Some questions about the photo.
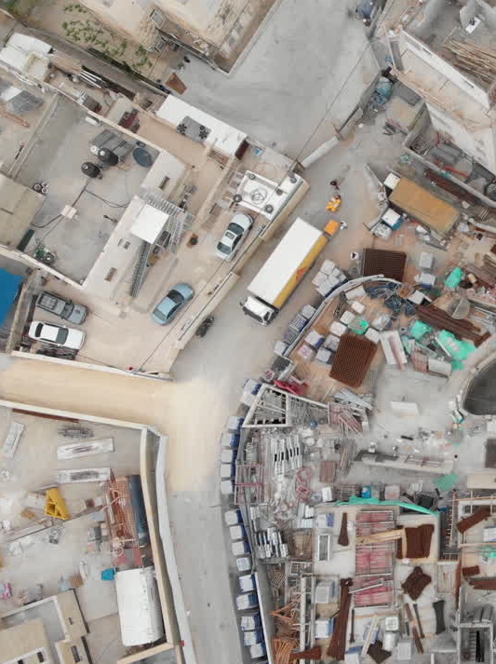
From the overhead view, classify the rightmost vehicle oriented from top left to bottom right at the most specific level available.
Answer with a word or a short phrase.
truck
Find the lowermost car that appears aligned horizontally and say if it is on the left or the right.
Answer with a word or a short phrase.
left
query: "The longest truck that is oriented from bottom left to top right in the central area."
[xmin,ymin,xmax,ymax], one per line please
[243,218,335,322]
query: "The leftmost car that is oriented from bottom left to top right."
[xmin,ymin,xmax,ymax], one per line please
[150,283,197,326]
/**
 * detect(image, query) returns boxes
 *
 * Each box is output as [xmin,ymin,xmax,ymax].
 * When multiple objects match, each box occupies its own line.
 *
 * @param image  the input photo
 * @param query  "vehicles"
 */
[217,212,253,260]
[150,283,197,326]
[30,291,91,325]
[383,168,463,236]
[243,218,335,322]
[27,320,88,351]
[199,317,213,335]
